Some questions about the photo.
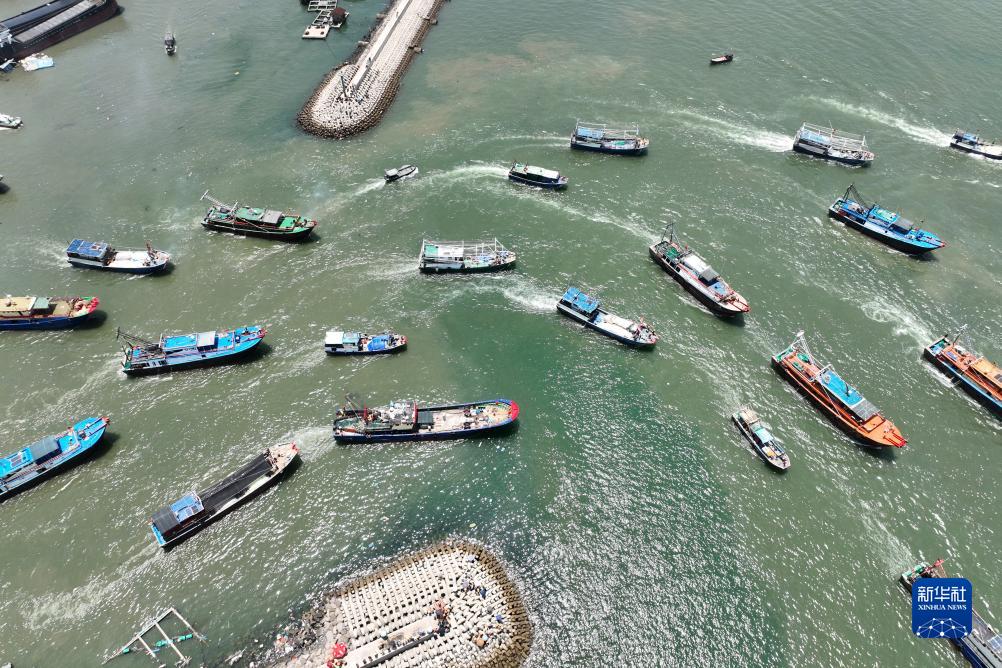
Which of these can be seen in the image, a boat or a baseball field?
boat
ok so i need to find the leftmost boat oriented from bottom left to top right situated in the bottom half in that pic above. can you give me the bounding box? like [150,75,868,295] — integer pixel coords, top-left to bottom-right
[0,417,114,509]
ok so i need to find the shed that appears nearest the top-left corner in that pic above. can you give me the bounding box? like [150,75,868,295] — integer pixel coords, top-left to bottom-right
[330,9,350,26]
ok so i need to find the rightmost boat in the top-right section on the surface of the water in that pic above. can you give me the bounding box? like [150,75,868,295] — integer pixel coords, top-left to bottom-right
[949,133,1002,162]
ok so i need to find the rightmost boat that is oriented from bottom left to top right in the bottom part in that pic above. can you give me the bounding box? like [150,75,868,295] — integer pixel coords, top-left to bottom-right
[152,447,301,549]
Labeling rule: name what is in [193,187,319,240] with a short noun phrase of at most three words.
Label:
boat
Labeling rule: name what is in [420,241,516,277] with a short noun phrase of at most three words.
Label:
boat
